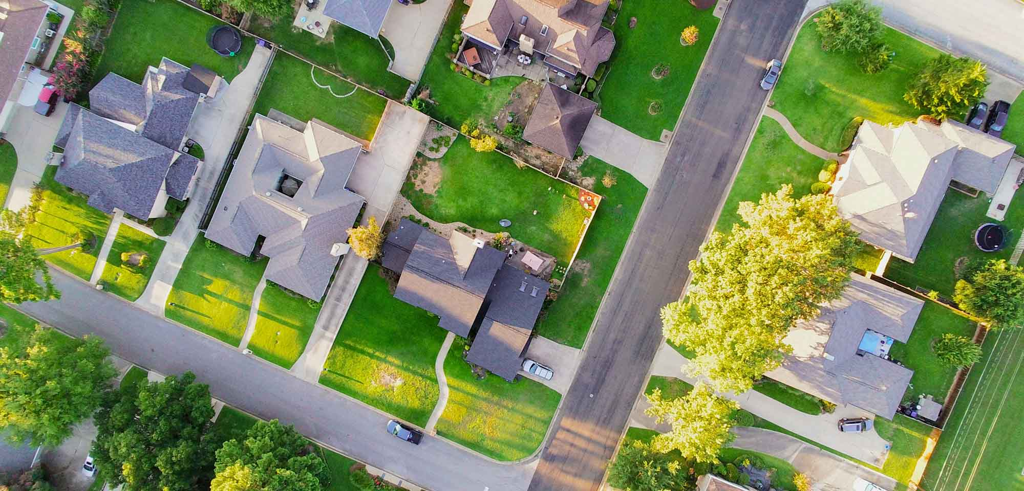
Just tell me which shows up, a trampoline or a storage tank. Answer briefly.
trampoline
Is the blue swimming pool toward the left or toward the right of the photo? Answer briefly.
right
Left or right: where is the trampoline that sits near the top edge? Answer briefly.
left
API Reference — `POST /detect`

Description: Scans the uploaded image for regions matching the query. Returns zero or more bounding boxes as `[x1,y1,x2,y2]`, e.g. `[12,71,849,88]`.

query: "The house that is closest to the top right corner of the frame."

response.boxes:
[829,119,1016,264]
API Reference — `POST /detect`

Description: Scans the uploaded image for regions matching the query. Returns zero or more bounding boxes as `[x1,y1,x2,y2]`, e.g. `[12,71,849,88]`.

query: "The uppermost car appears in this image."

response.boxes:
[760,56,782,92]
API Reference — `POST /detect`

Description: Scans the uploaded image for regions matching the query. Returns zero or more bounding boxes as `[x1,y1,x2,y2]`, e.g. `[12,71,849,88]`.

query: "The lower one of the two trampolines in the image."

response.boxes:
[974,223,1015,254]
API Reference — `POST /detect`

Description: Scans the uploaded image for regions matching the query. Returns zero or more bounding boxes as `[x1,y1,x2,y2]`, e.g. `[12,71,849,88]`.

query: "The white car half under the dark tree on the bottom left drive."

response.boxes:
[79,447,100,481]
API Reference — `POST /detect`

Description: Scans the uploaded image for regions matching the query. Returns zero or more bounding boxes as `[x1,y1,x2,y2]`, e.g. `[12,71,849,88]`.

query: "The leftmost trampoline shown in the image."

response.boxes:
[204,19,242,55]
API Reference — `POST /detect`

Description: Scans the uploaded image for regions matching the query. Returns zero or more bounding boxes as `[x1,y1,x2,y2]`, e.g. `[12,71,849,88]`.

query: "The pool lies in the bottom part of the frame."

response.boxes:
[859,330,894,359]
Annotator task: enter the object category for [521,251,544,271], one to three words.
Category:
umbrella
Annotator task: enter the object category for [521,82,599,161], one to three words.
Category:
building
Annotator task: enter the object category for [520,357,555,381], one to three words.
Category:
car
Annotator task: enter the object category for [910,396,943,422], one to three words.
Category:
shed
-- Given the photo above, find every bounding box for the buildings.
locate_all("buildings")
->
[466,263,550,383]
[910,396,943,422]
[205,113,366,302]
[52,56,207,222]
[323,0,397,40]
[0,0,59,143]
[461,0,621,78]
[764,263,925,421]
[697,472,747,491]
[521,82,599,161]
[829,119,1016,264]
[382,218,508,339]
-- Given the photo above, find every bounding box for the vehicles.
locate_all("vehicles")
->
[760,56,782,92]
[520,357,555,381]
[854,475,891,491]
[384,418,424,449]
[33,83,55,117]
[838,417,874,434]
[962,104,987,129]
[79,447,100,481]
[980,96,1011,136]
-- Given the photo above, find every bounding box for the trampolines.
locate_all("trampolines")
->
[974,223,1015,254]
[204,19,242,55]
